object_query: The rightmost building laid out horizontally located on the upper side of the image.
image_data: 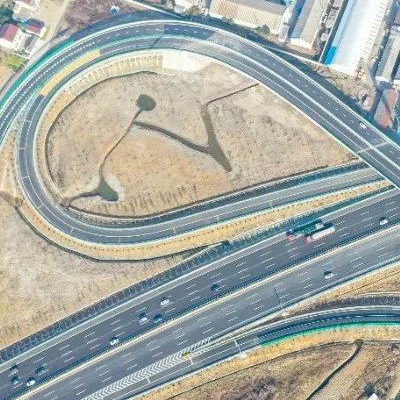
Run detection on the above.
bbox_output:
[212,0,288,35]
